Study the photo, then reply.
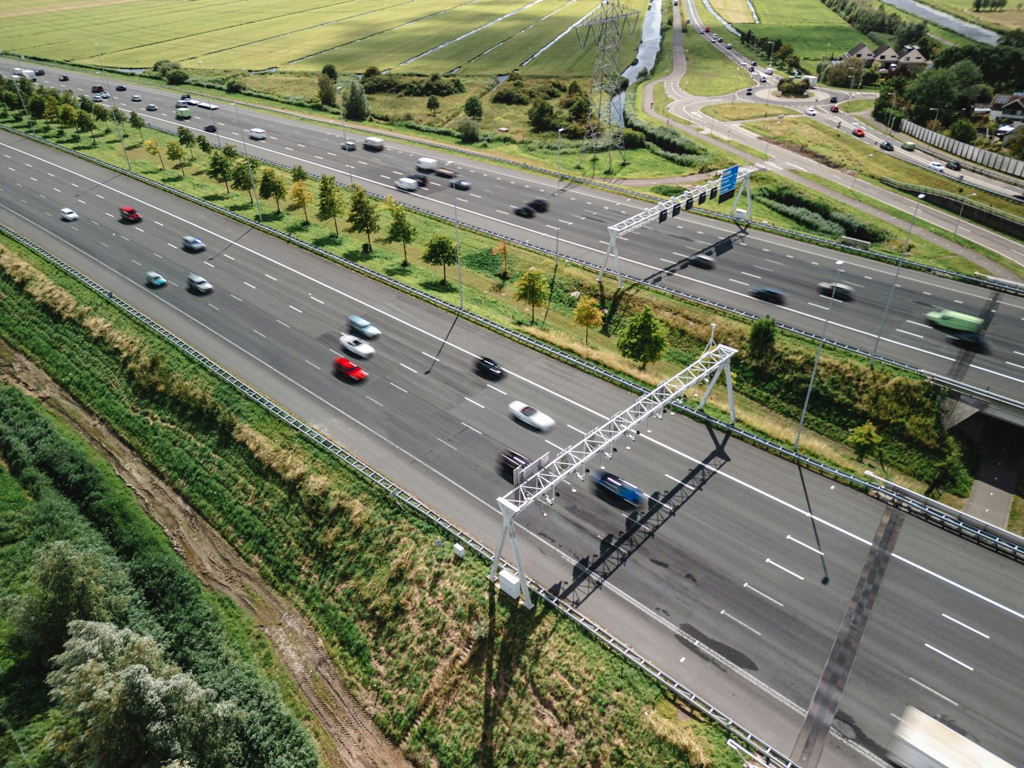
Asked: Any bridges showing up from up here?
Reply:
Yes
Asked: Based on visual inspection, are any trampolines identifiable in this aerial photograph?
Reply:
No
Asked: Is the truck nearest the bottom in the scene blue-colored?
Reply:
No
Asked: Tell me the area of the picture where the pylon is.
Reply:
top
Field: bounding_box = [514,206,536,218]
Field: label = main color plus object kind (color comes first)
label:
black vehicle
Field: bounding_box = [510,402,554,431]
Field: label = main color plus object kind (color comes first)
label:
white car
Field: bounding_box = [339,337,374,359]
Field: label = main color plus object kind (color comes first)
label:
white car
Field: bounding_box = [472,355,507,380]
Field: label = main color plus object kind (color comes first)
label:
black car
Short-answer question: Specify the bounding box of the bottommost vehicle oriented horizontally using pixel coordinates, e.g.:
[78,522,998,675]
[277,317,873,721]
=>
[878,709,1007,768]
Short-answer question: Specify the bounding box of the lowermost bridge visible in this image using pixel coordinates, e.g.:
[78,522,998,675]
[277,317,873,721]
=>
[858,483,1024,573]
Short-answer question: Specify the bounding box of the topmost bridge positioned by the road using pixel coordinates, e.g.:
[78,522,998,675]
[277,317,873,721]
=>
[930,378,1024,468]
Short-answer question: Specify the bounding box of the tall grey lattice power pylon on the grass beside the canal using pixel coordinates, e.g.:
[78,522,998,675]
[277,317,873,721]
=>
[576,0,638,173]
